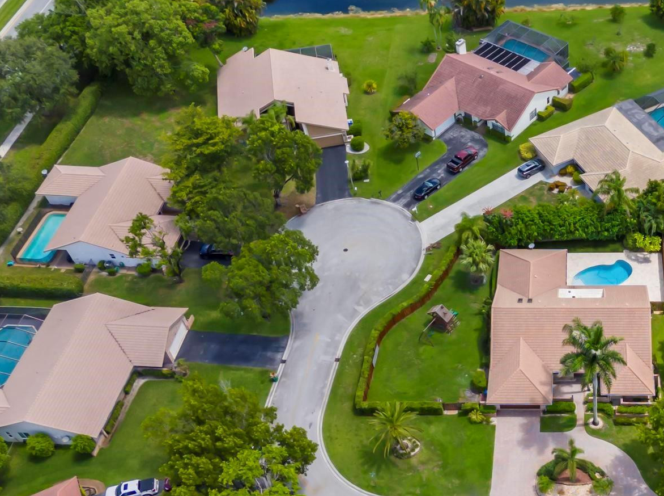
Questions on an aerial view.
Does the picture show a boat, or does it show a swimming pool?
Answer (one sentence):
Of the two, only a swimming pool appears.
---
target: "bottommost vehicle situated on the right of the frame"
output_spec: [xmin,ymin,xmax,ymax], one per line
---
[414,180,441,200]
